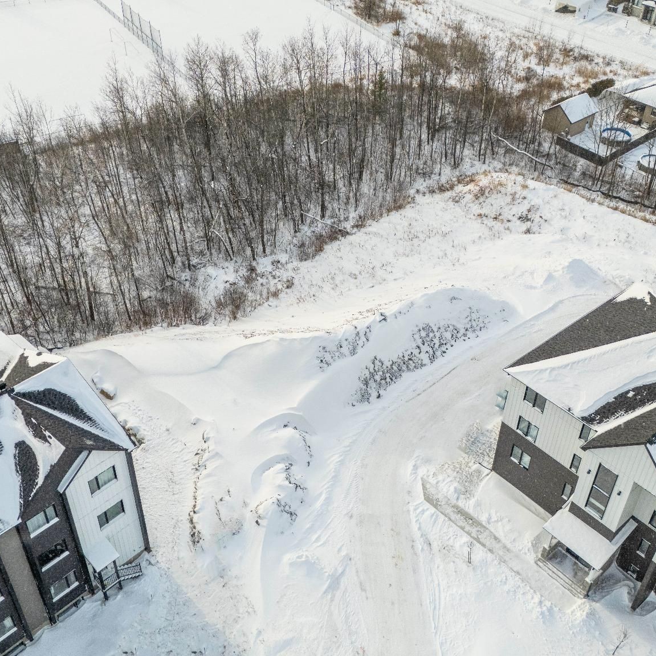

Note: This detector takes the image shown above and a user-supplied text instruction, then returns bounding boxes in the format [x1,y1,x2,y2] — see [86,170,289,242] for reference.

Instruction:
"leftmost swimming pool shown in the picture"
[599,130,632,149]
